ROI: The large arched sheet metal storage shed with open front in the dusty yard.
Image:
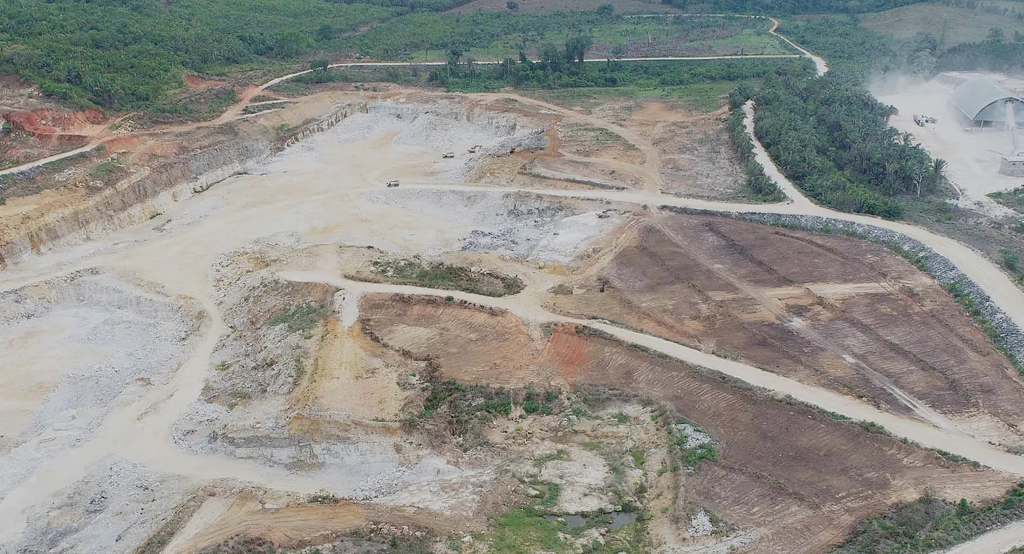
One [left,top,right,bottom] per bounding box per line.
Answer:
[948,77,1024,131]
